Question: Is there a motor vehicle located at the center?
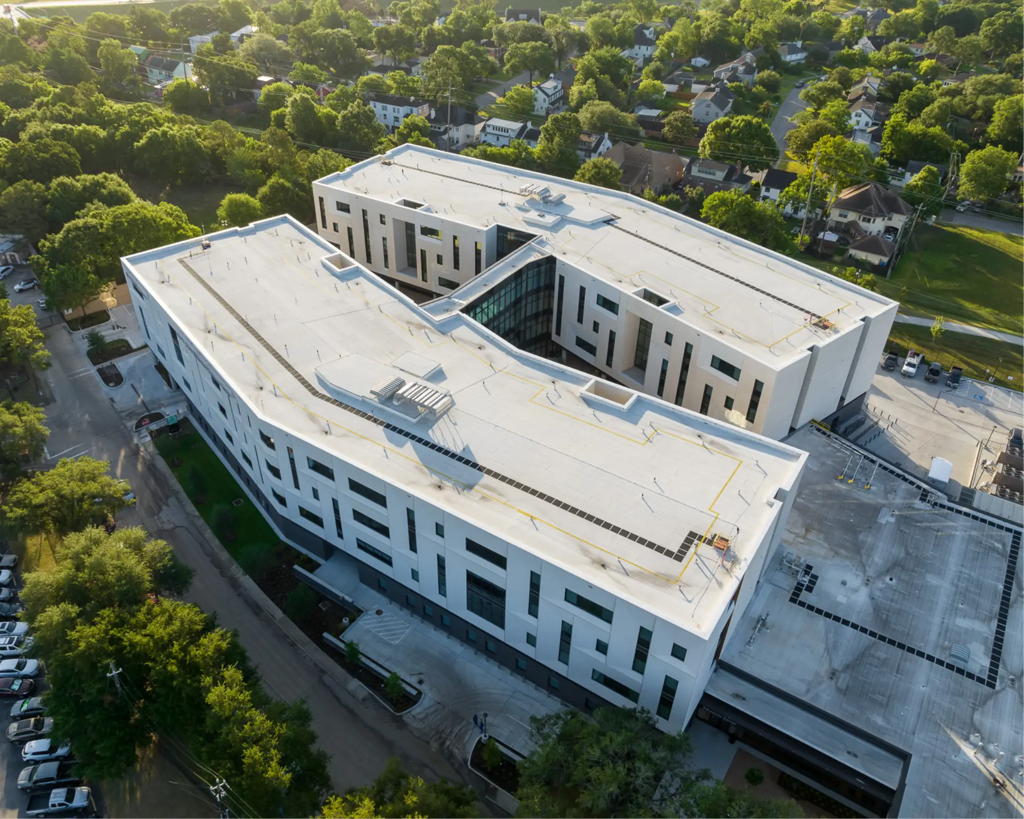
No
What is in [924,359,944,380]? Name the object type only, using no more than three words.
vehicle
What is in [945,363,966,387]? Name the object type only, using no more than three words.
truck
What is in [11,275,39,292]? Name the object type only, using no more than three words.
car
